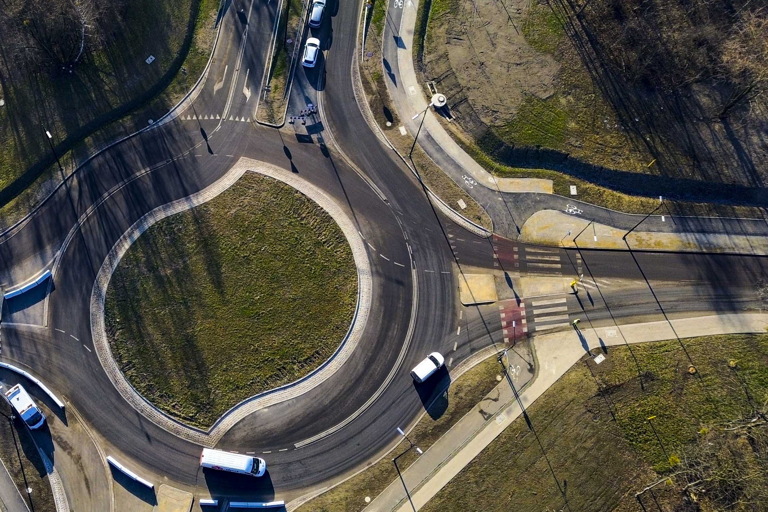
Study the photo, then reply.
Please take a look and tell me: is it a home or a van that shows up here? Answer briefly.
van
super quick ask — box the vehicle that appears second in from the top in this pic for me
[302,37,321,70]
